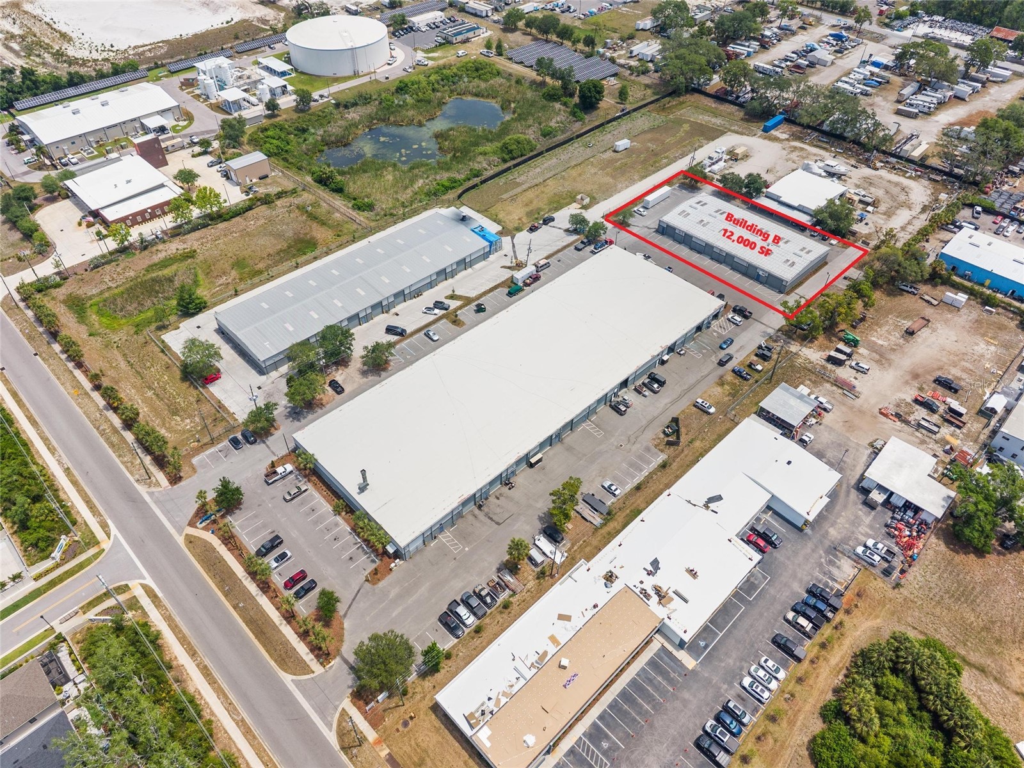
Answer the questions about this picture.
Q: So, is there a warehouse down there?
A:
Yes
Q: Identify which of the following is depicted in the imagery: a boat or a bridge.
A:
boat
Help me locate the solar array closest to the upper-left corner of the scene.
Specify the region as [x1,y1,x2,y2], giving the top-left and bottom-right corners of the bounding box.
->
[12,67,150,111]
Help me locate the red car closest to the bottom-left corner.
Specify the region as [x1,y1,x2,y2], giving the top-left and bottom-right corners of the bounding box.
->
[282,569,308,591]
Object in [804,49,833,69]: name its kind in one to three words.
shed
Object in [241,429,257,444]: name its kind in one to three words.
car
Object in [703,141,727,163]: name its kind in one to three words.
boat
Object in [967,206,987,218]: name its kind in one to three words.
vehicle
